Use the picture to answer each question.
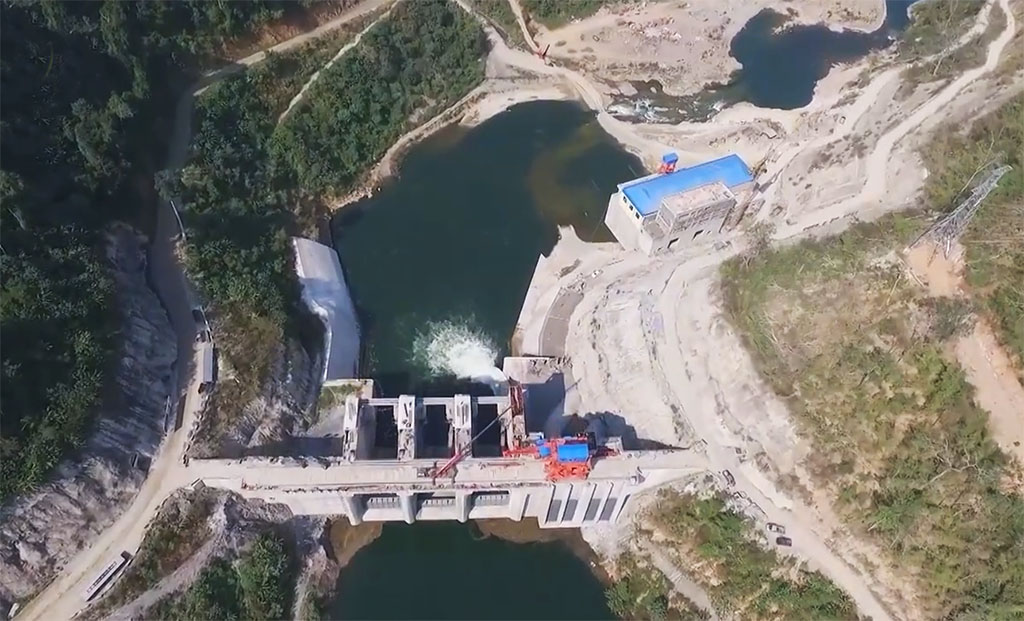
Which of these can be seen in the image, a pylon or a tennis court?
pylon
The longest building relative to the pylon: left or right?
to the left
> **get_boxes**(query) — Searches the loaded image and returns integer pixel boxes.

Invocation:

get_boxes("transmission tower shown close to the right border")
[910,161,1011,265]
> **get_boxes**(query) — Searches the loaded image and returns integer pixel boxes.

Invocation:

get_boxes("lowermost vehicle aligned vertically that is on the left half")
[195,331,211,394]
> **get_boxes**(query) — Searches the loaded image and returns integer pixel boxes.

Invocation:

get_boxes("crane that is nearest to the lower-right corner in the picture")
[516,439,618,483]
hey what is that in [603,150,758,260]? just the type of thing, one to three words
building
